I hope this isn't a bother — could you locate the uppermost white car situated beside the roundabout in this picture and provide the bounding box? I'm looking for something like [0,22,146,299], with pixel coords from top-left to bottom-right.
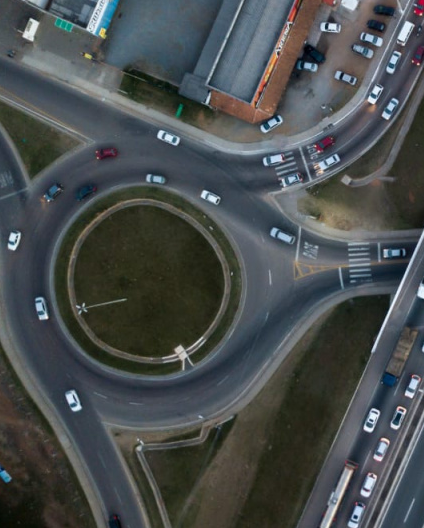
[157,130,181,146]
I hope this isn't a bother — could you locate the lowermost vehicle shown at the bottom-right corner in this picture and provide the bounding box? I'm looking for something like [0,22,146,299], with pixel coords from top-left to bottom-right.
[348,502,365,528]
